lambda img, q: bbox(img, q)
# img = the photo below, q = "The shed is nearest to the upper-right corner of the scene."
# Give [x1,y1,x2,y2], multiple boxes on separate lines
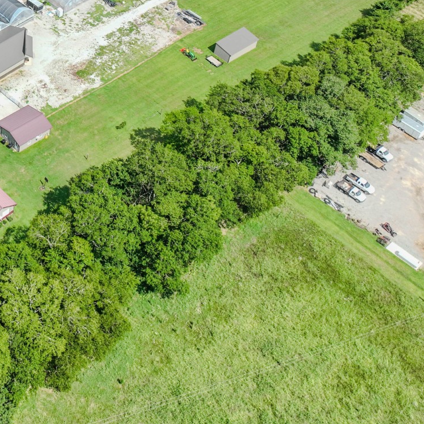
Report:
[213,25,259,63]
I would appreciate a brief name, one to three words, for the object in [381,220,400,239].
work vehicle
